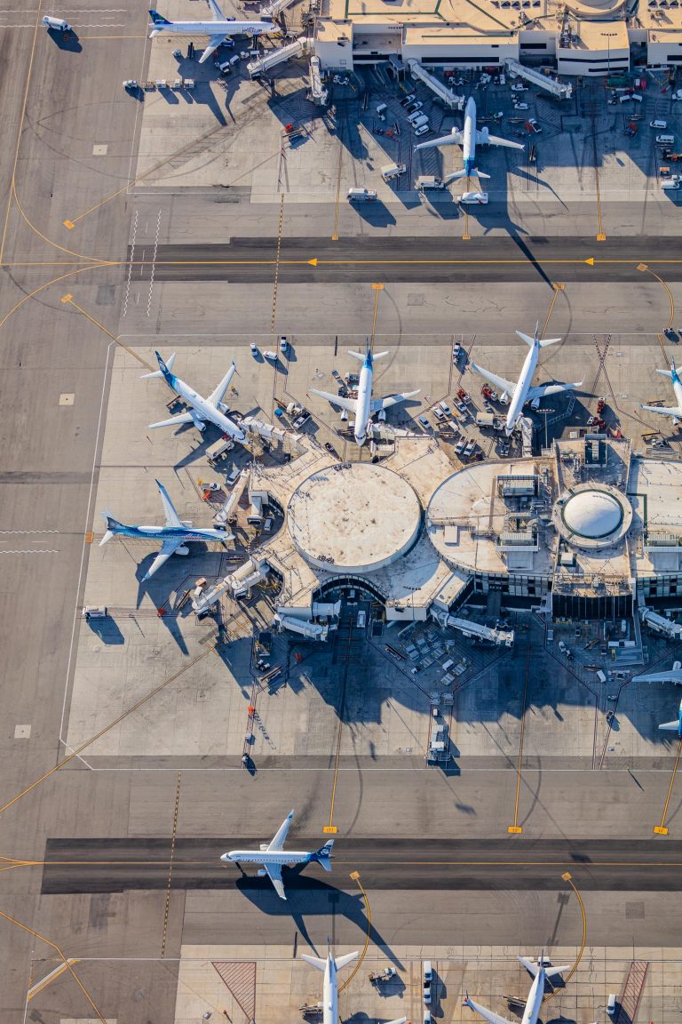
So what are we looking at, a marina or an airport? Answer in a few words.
airport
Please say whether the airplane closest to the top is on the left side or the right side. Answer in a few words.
left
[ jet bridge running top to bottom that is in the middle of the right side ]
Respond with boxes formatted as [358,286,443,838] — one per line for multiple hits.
[514,412,536,459]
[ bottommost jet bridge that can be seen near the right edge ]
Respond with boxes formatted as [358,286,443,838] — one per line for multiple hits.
[632,604,682,647]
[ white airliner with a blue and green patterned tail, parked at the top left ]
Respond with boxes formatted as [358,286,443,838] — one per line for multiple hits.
[147,0,280,64]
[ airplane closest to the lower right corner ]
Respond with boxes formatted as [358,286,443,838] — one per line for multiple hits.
[471,938,601,1024]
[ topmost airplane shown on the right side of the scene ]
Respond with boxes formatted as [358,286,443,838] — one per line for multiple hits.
[415,99,524,173]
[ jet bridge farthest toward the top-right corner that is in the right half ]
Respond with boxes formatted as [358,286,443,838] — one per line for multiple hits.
[503,57,579,101]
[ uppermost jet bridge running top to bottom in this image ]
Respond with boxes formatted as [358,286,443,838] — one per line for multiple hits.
[309,54,333,114]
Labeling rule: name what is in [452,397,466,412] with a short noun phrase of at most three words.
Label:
vehicle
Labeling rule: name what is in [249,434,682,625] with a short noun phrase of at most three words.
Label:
building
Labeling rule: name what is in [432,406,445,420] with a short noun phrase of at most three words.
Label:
vehicle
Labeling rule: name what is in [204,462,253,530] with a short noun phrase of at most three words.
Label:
jet bridge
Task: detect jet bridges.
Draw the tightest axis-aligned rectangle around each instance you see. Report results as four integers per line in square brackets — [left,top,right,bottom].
[204,462,253,530]
[632,604,682,647]
[241,37,315,85]
[412,58,469,113]
[184,551,258,623]
[309,54,333,114]
[309,600,354,623]
[425,605,520,649]
[272,608,338,647]
[240,410,308,452]
[248,491,266,535]
[360,421,437,443]
[224,563,275,606]
[503,57,579,101]
[514,412,536,459]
